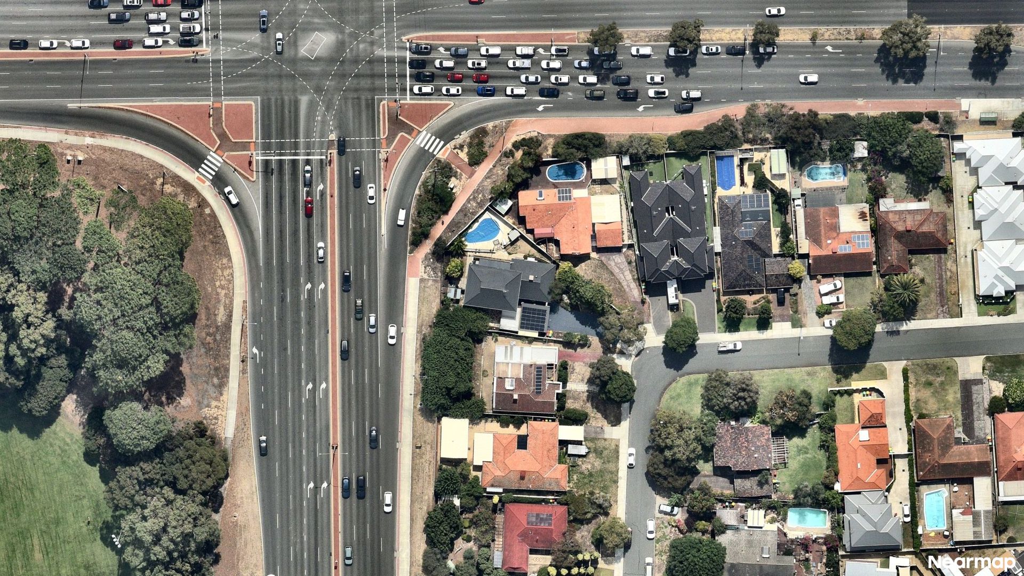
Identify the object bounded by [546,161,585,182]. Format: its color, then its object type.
blue swimming pool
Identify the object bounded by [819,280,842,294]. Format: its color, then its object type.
white car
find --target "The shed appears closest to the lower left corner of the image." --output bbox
[440,417,468,458]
